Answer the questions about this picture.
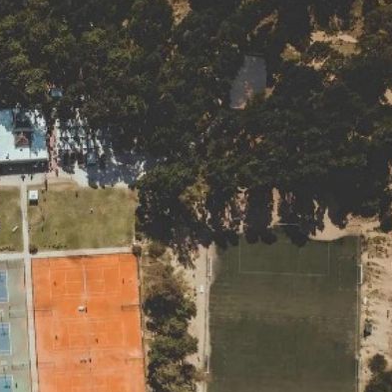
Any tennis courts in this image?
Yes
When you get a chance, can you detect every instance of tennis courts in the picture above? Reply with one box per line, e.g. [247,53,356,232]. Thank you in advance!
[34,305,143,364]
[38,359,145,392]
[0,311,30,366]
[31,253,139,310]
[0,260,26,312]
